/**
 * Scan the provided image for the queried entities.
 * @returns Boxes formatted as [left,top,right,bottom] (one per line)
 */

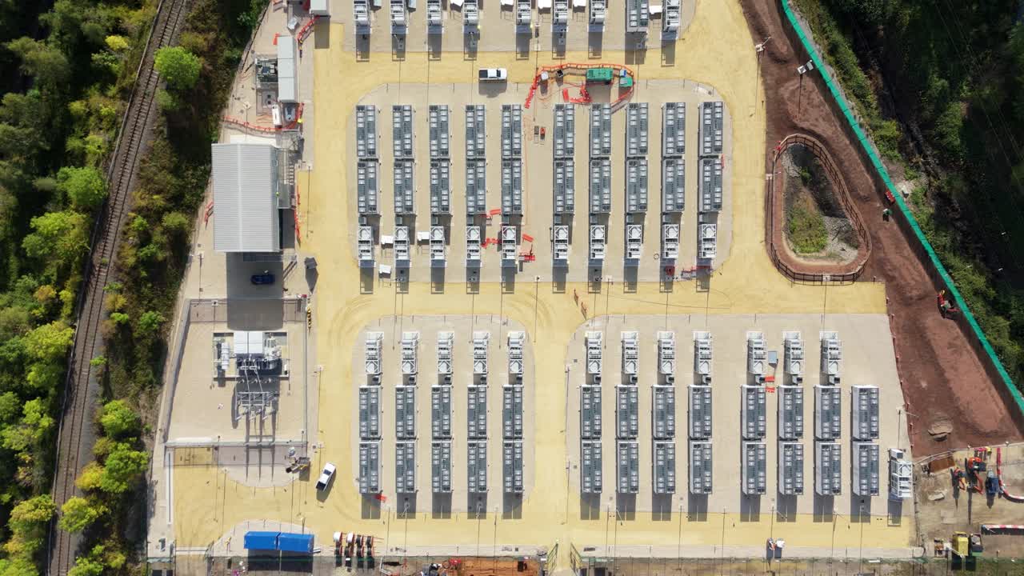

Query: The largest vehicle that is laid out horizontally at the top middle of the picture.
[478,66,508,80]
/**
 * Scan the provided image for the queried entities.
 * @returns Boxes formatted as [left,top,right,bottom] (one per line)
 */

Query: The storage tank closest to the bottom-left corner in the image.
[243,333,283,370]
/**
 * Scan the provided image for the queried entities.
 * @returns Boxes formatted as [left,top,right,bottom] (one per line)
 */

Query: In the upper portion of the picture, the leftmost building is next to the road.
[211,143,283,252]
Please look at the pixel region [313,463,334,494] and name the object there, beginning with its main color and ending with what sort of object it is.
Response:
white truck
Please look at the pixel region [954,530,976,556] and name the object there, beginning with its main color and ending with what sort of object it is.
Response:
yellow work vehicle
